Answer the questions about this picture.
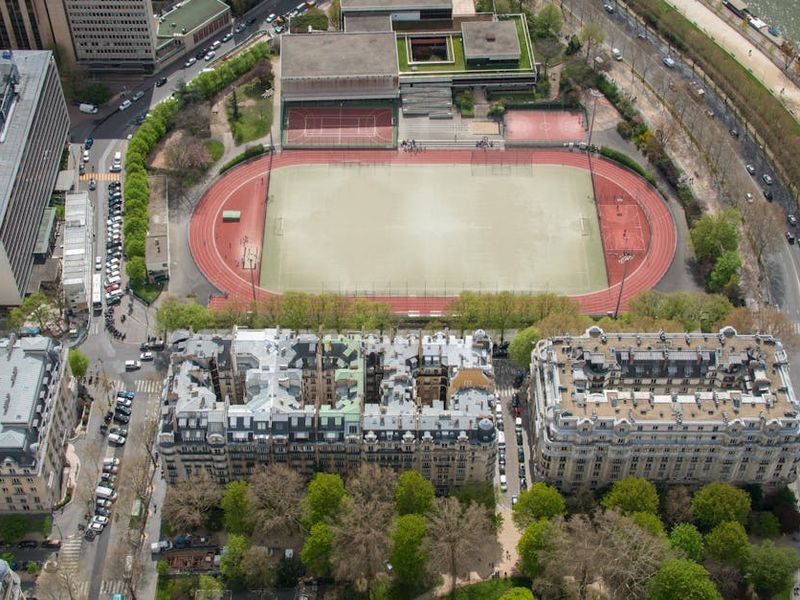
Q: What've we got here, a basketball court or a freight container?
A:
basketball court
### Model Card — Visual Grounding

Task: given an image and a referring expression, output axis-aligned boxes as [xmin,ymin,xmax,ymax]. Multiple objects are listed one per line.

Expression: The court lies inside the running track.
[597,202,648,254]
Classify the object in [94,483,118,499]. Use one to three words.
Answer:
vehicle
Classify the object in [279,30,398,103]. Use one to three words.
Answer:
building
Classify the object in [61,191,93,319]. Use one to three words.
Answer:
building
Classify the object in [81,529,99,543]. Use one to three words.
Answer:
car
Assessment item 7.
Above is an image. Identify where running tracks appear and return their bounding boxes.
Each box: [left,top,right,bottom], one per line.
[190,147,675,320]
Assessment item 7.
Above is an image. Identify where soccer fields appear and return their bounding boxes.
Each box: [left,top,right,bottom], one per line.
[258,166,601,296]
